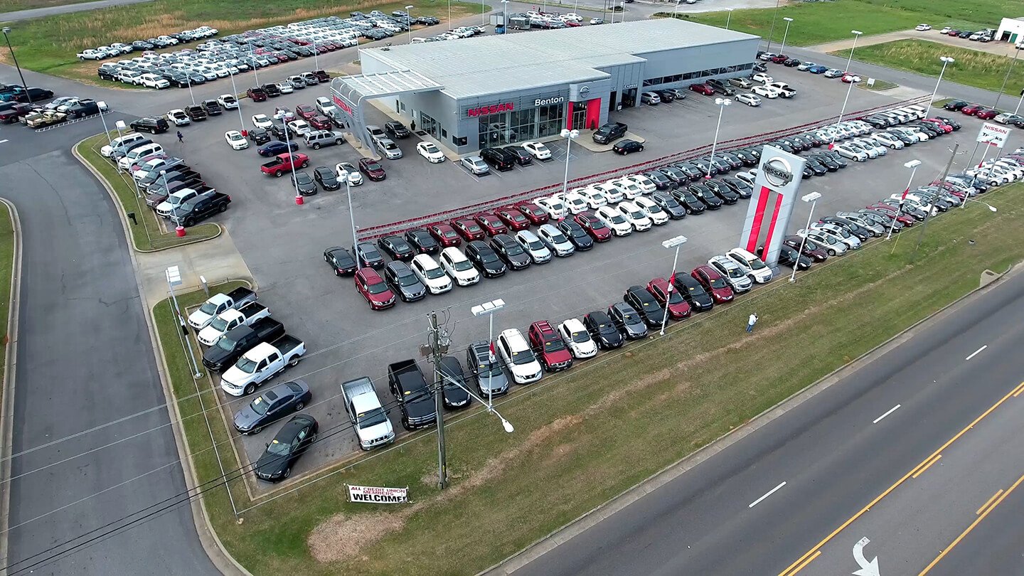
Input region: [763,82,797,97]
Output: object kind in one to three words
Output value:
vehicle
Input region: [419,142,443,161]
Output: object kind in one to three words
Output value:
car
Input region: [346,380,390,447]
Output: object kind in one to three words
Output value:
truck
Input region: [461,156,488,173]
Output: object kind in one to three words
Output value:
car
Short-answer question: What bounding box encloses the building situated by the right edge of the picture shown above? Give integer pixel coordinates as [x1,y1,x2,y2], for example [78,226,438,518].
[995,17,1024,49]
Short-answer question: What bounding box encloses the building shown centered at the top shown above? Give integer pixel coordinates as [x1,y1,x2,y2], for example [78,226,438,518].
[351,16,763,153]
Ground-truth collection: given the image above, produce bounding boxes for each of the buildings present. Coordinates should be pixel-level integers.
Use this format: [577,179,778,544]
[995,17,1024,49]
[351,16,763,153]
